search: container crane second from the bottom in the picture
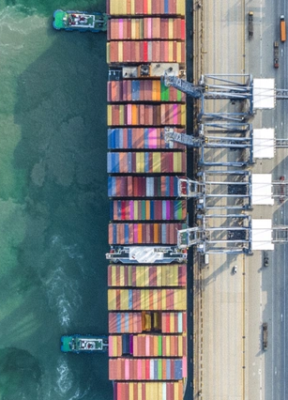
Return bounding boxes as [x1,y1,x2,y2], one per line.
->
[172,169,288,214]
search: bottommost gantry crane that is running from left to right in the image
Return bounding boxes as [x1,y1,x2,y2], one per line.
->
[170,210,288,254]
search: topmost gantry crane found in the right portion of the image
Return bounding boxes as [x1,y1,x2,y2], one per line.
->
[158,70,288,128]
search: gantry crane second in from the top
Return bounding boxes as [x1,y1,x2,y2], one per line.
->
[158,124,288,169]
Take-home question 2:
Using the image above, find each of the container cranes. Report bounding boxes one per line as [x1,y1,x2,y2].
[172,169,288,214]
[158,124,288,169]
[170,210,288,254]
[158,70,288,128]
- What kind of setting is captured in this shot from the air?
port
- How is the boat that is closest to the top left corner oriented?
from left to right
